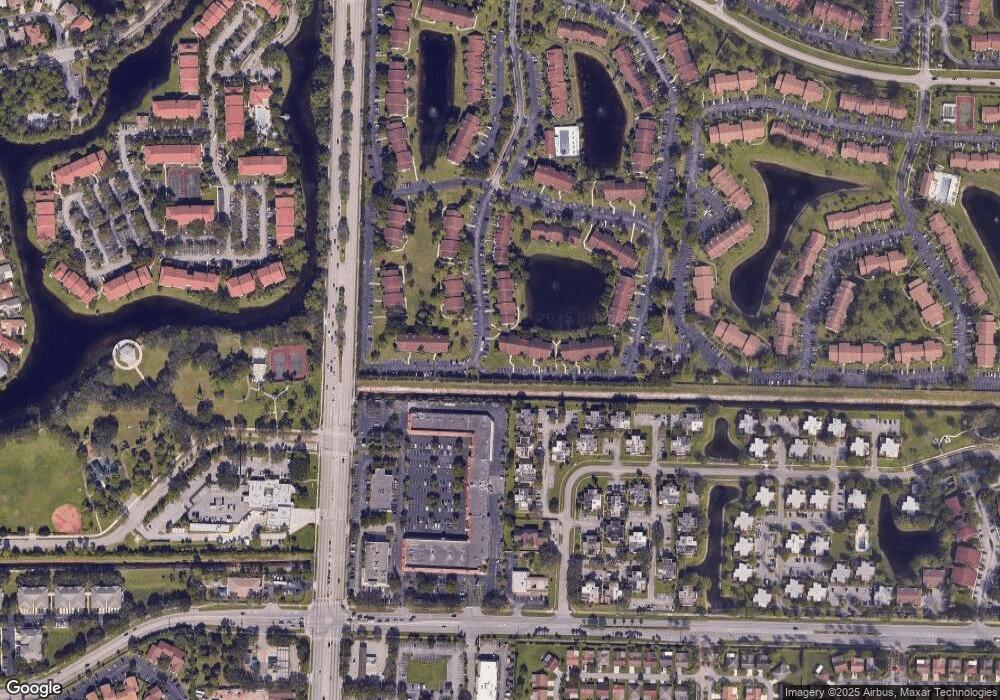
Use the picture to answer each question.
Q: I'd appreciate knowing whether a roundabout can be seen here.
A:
No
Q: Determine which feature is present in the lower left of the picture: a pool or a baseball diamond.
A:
baseball diamond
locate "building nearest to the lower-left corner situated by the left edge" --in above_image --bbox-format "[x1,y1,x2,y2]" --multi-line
[17,629,43,661]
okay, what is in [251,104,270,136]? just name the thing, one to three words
swimming pool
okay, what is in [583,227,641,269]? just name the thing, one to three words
building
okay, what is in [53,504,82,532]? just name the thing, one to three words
baseball field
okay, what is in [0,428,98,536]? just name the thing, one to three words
sports field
